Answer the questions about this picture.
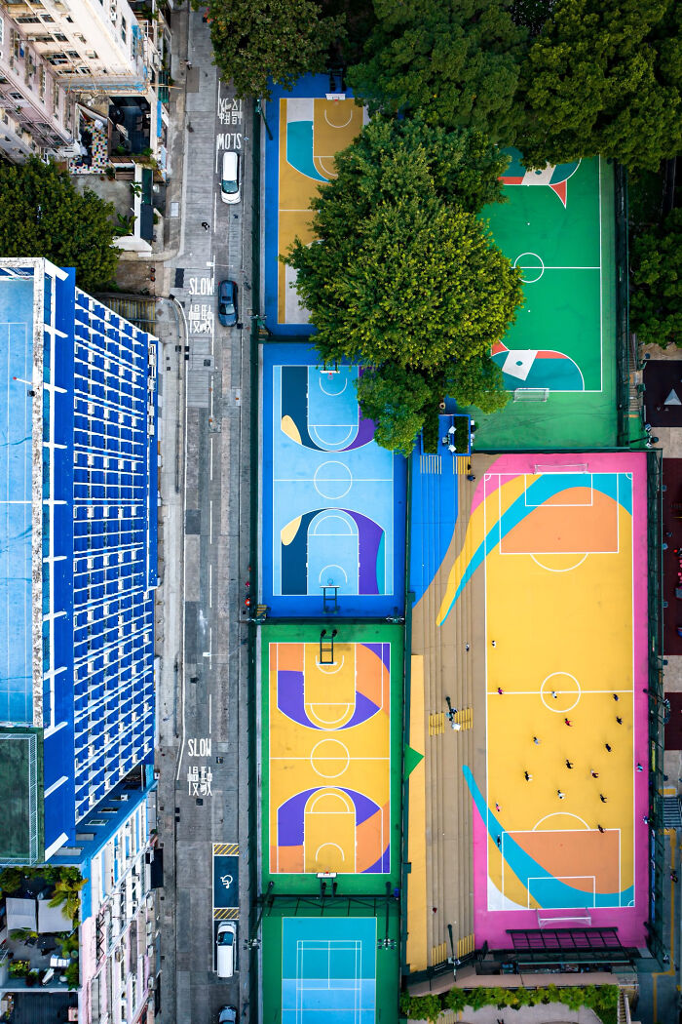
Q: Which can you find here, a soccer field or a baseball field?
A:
soccer field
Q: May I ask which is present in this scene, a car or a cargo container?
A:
car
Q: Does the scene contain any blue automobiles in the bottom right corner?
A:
No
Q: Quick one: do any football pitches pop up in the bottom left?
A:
No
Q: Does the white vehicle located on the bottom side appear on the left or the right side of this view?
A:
left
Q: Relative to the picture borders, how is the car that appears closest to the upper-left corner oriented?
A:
from top to bottom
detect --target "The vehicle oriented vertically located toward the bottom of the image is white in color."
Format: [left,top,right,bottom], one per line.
[216,923,238,978]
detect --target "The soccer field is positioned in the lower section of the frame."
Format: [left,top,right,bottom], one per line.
[474,454,647,949]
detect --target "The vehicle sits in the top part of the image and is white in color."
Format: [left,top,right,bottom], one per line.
[217,149,240,202]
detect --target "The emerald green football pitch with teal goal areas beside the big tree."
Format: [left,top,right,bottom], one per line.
[417,107,615,448]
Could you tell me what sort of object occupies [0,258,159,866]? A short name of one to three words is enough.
building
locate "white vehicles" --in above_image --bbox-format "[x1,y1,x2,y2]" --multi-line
[217,149,240,202]
[216,923,238,978]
